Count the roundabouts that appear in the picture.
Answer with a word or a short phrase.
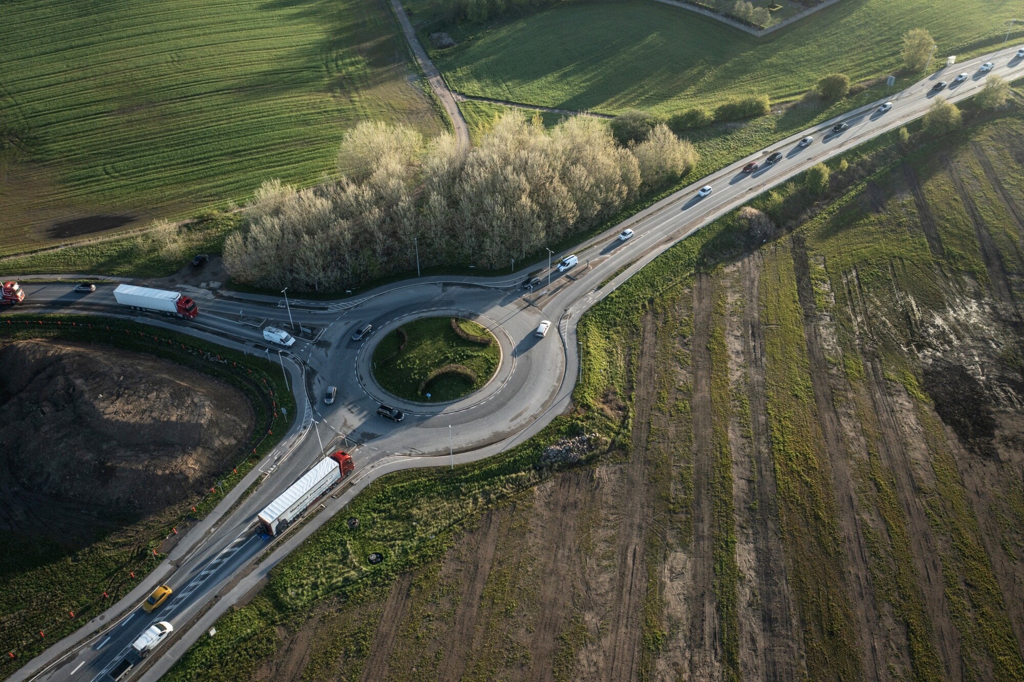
one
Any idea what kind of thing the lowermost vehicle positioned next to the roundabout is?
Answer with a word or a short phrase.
truck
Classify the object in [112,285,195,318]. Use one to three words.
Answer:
truck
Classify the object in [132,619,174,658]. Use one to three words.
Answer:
truck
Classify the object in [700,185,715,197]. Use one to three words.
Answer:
vehicle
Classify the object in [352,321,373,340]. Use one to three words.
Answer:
car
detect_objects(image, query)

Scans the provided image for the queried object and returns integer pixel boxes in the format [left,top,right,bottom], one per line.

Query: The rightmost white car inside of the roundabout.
[534,319,552,335]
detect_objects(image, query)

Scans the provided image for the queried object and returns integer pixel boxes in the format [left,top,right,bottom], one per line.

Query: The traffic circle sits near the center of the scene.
[302,282,566,456]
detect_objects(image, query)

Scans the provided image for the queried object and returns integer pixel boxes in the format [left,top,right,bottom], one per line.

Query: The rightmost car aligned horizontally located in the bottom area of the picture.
[376,403,405,420]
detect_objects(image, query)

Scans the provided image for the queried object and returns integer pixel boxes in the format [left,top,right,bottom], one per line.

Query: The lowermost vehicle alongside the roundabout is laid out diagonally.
[257,450,357,535]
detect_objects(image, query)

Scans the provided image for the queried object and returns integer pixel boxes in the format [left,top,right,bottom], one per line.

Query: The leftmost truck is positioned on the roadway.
[0,281,21,302]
